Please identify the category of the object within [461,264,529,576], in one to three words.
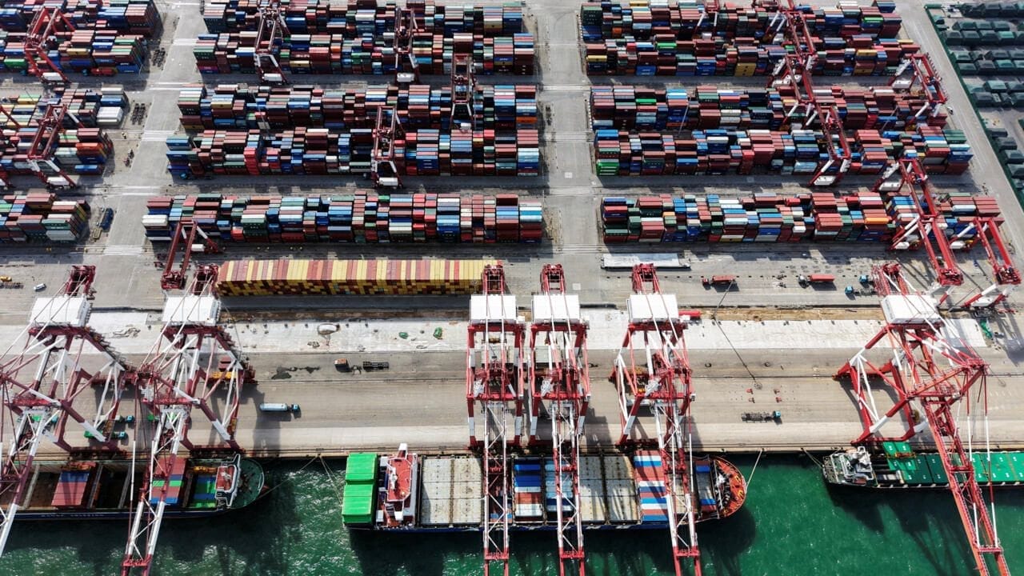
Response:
container crane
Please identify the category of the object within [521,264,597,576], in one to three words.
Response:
container crane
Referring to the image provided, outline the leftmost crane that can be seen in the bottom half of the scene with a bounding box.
[0,264,139,538]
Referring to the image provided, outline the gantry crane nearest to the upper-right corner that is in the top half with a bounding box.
[885,55,950,131]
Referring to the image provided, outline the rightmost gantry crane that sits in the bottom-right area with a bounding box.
[826,263,1007,576]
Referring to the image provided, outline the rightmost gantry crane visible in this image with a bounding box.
[946,222,1021,308]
